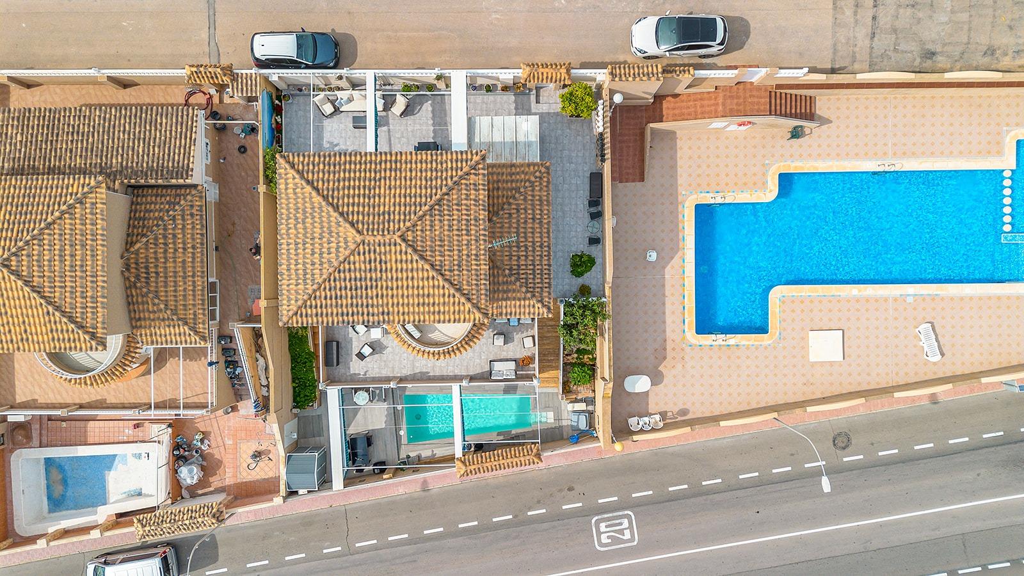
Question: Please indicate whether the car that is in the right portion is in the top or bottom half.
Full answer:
The car that is in the right portion is in the top half of the image.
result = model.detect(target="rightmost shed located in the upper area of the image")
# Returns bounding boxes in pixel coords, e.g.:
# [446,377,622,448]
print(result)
[606,64,734,106]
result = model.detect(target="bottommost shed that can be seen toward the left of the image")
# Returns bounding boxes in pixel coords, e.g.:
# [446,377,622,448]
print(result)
[285,446,328,490]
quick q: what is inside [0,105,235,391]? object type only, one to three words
house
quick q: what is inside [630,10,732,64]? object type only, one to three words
car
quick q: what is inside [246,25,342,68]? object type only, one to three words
car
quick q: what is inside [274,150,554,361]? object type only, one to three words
house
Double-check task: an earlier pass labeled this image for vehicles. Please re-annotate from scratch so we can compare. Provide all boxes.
[79,544,180,576]
[630,10,732,64]
[246,25,342,68]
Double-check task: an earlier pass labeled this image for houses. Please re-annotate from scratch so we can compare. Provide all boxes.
[274,150,554,361]
[0,105,235,391]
